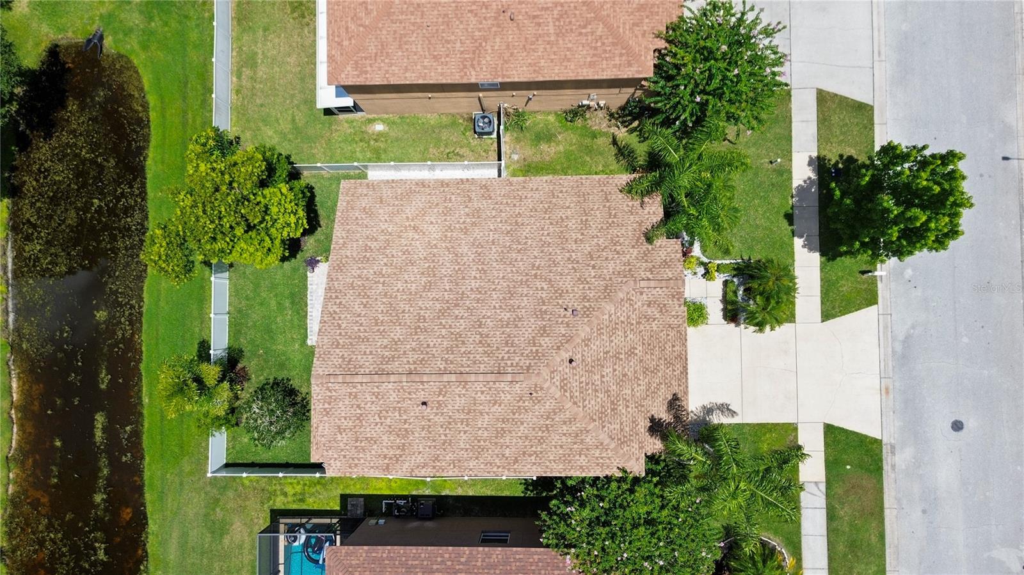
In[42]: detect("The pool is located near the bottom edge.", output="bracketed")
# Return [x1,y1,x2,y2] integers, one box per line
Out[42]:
[277,517,367,575]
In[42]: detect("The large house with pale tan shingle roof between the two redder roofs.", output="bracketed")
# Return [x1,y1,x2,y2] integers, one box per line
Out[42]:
[311,175,689,477]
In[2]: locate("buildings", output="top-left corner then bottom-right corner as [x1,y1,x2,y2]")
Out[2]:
[311,175,689,477]
[326,516,650,575]
[325,0,681,115]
